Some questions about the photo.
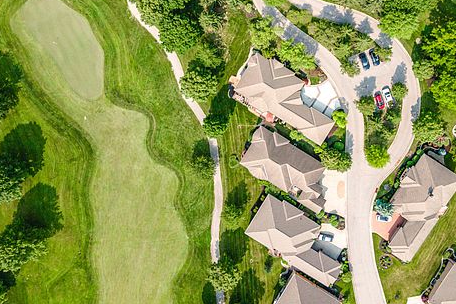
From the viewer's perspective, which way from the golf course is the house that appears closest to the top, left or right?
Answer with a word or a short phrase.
to its right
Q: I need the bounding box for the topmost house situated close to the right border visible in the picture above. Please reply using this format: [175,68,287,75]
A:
[389,153,456,260]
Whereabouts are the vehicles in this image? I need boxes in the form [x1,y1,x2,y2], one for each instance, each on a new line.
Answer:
[318,232,334,242]
[382,87,394,105]
[358,52,370,70]
[369,47,382,66]
[374,92,385,109]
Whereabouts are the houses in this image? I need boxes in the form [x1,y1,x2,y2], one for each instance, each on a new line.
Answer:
[430,260,456,304]
[273,270,342,304]
[245,194,343,285]
[389,153,456,260]
[234,52,335,145]
[237,125,326,216]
